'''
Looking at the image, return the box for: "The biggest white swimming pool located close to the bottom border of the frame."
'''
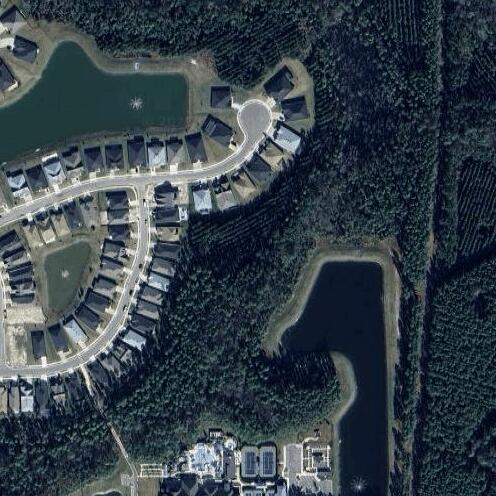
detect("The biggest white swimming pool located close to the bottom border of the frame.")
[174,438,236,478]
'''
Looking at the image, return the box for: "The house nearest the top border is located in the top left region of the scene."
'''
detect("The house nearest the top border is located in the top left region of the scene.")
[0,4,27,29]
